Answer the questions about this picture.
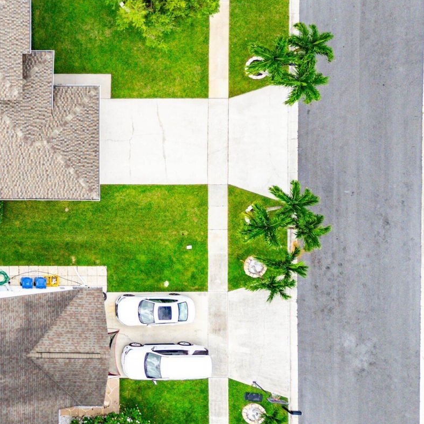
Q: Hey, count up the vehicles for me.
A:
2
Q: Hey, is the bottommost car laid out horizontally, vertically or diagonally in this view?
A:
horizontally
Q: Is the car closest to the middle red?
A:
No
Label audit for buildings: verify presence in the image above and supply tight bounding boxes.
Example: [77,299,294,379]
[0,283,110,424]
[0,0,102,203]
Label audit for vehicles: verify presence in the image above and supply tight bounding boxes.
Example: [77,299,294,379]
[119,339,211,383]
[112,289,196,329]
